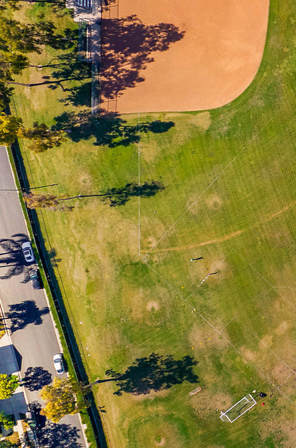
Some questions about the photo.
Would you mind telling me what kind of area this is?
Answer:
sports ground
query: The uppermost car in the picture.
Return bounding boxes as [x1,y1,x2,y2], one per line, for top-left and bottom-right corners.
[21,241,34,263]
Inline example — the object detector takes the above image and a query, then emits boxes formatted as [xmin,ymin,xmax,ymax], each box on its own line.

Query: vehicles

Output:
[21,241,34,263]
[51,353,65,375]
[27,267,42,290]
